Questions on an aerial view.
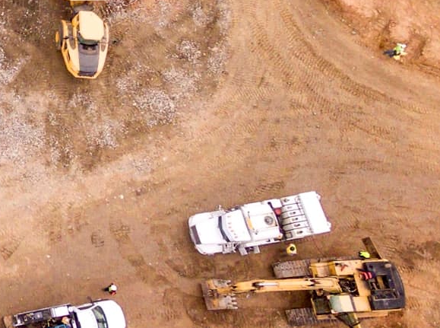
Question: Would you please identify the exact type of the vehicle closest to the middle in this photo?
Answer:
truck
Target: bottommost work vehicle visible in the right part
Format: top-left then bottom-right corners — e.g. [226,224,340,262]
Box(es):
[207,256,404,328]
